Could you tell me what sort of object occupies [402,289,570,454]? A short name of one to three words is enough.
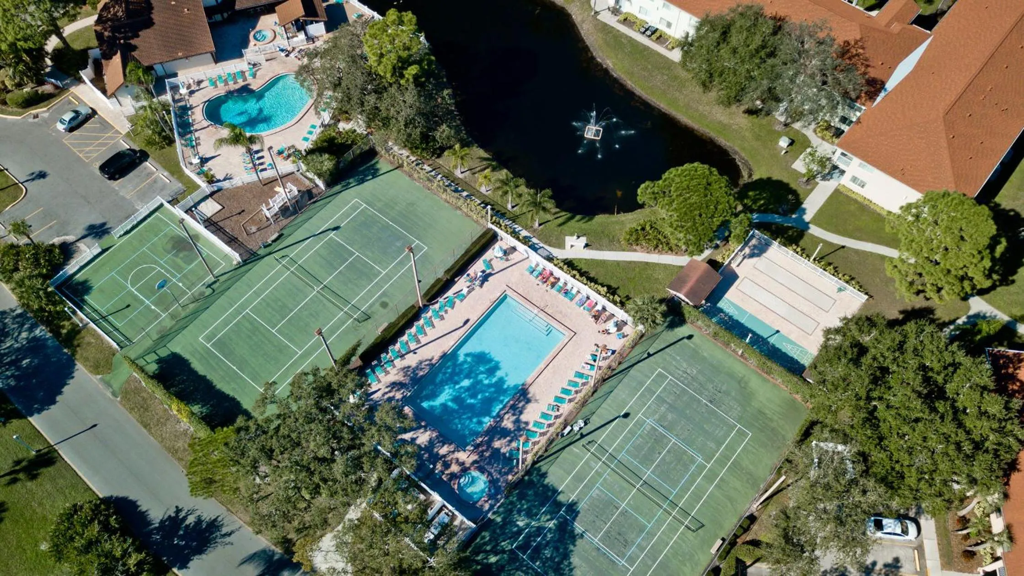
swimming pool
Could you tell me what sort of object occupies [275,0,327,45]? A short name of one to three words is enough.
building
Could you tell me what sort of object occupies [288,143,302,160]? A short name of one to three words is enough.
umbrella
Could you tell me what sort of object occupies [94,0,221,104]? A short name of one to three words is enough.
building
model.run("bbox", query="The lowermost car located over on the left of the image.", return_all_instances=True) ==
[98,148,142,179]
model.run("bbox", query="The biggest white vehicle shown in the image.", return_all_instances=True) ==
[866,516,920,541]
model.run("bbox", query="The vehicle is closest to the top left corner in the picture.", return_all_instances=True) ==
[55,104,95,132]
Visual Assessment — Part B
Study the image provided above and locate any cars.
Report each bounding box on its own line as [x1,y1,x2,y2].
[98,148,142,179]
[866,516,920,541]
[55,104,95,132]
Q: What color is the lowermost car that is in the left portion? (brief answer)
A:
black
